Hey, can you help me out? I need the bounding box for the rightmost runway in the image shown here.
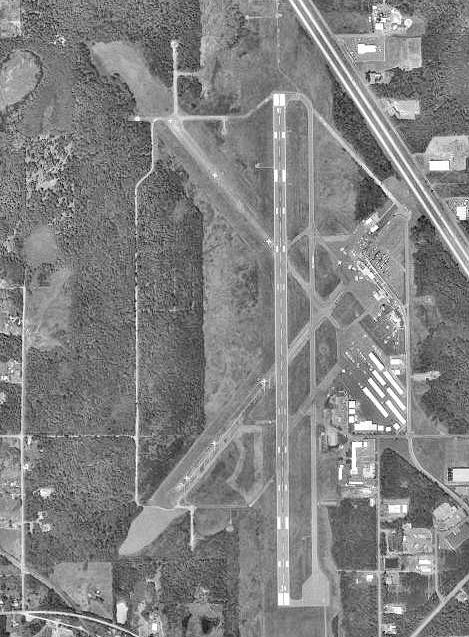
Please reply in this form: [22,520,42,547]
[273,94,289,606]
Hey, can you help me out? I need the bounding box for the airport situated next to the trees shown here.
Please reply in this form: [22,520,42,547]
[144,91,406,608]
